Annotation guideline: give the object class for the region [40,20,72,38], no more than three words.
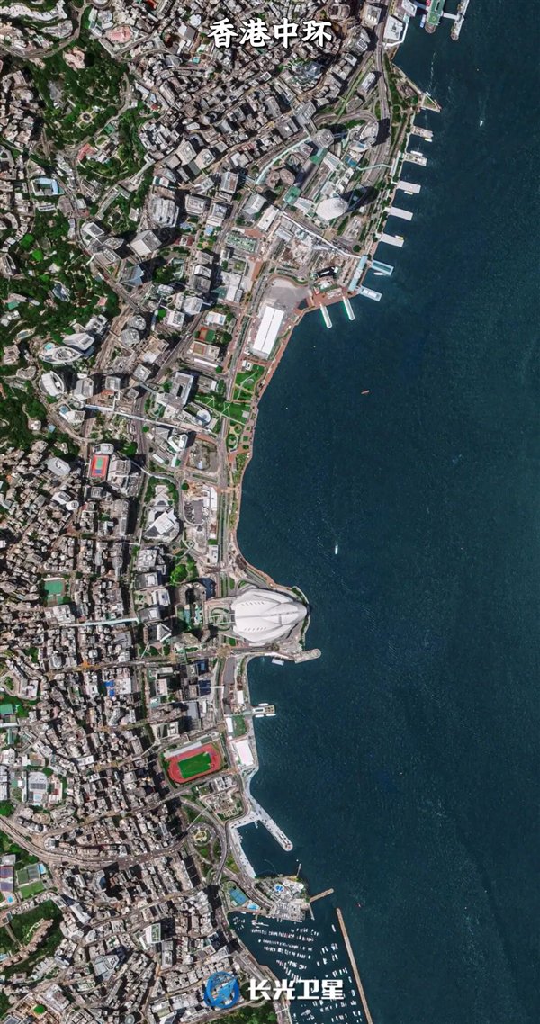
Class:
building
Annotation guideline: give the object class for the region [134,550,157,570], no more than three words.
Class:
building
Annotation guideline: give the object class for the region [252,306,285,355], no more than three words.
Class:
tent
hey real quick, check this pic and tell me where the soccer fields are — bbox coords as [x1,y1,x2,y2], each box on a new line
[43,577,64,596]
[175,752,210,779]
